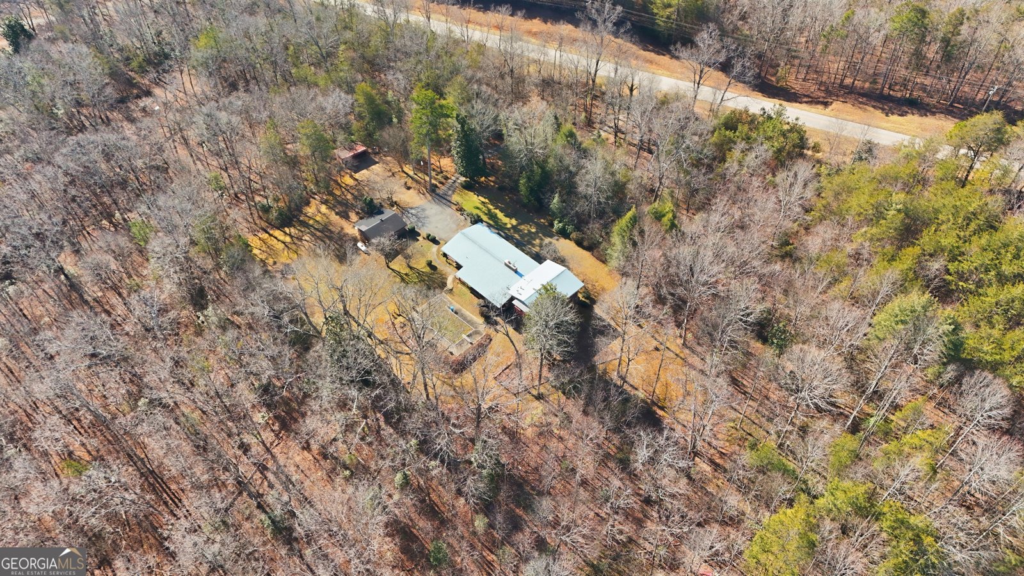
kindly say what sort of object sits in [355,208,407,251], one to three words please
building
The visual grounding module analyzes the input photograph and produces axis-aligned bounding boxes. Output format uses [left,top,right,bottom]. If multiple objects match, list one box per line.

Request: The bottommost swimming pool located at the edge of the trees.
[411,292,486,355]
